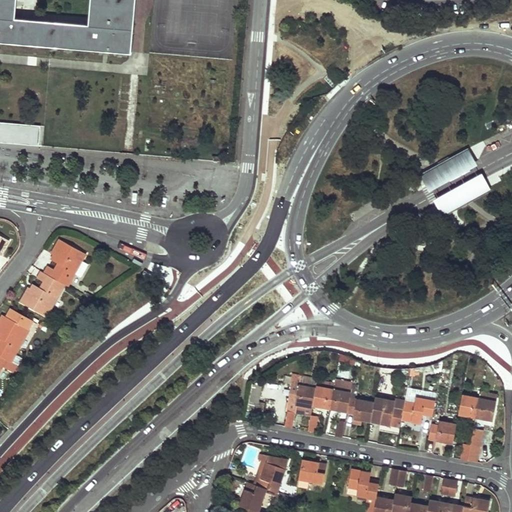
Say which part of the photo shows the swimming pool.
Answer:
bottom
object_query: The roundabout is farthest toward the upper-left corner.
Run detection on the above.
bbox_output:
[150,190,245,270]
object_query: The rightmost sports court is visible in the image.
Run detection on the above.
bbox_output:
[149,0,236,60]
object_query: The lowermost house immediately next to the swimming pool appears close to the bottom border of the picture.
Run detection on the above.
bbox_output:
[238,484,266,512]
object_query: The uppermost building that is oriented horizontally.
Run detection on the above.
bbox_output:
[0,0,135,54]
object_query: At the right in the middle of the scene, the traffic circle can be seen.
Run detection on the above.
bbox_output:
[276,30,512,426]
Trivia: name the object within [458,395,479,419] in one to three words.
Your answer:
house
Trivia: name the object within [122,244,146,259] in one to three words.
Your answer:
vehicle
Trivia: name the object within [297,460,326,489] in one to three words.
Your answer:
house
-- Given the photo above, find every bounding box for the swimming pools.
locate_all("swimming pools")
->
[242,444,261,476]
